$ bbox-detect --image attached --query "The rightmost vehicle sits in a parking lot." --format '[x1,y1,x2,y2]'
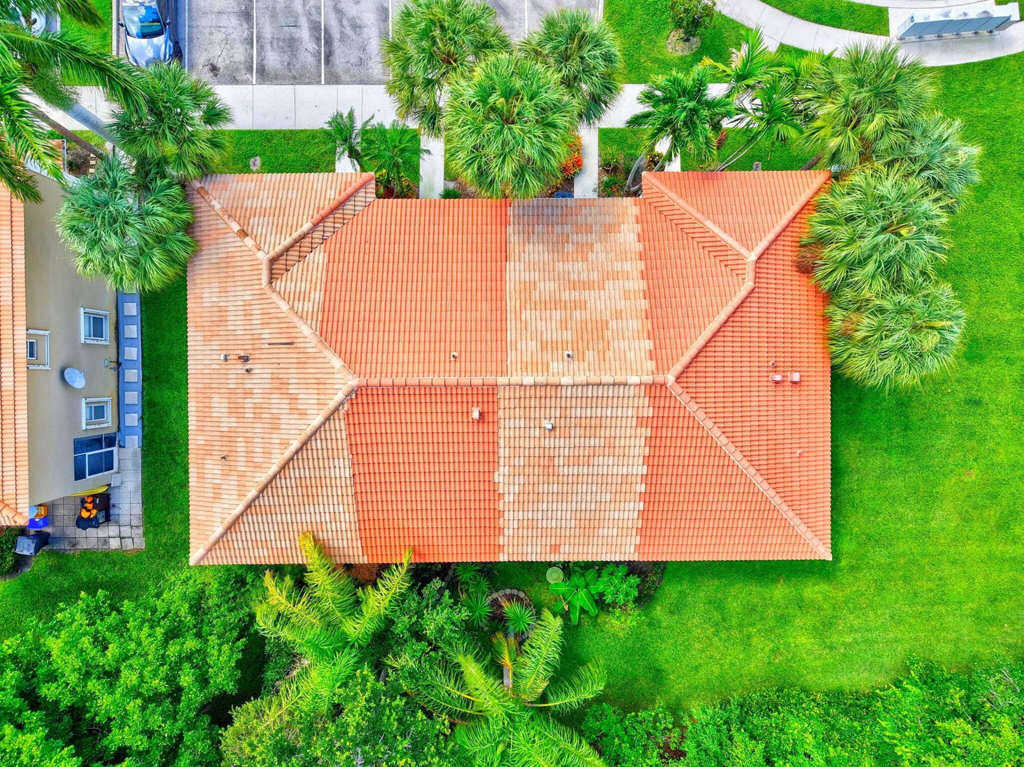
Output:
[115,0,179,67]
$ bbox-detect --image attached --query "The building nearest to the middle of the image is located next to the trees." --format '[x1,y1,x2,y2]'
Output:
[186,169,834,566]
